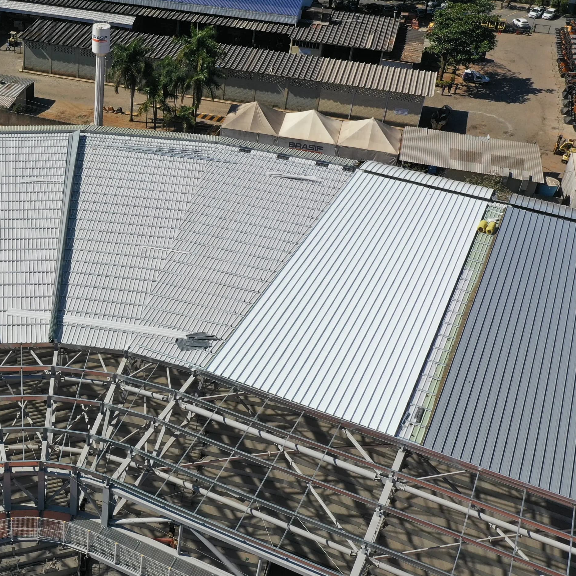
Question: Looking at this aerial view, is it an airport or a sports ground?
sports ground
